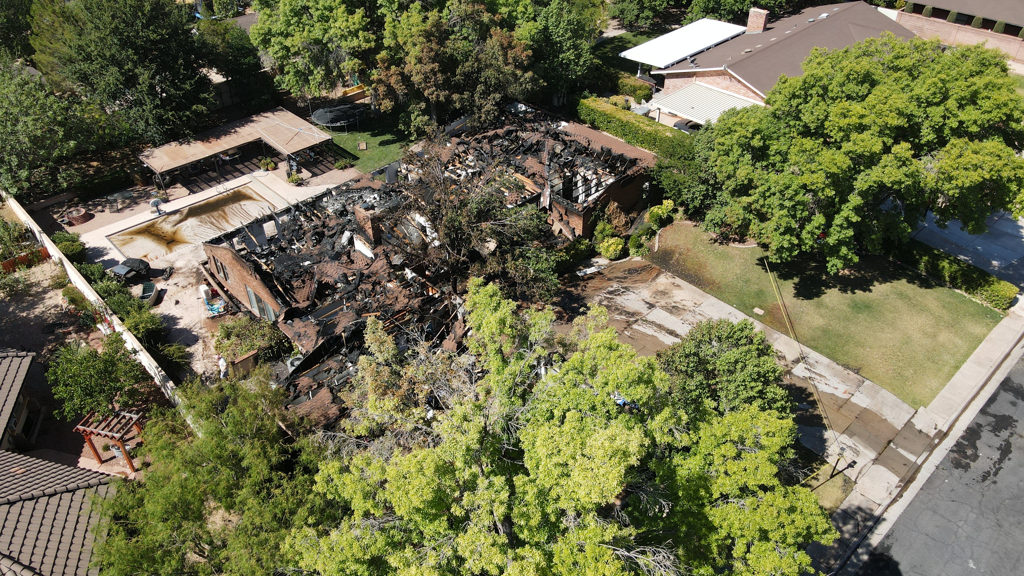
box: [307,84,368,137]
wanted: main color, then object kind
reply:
black trampoline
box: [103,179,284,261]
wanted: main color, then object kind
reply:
white swimming pool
